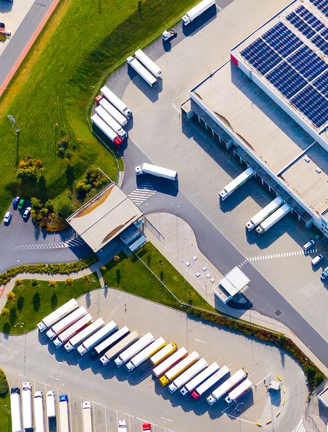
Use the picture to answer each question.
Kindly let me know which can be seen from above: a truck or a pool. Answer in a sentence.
Of the two, only a truck appears.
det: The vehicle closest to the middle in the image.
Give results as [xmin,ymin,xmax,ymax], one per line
[137,168,178,183]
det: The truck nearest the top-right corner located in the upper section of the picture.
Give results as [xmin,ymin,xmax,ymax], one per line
[182,0,215,27]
